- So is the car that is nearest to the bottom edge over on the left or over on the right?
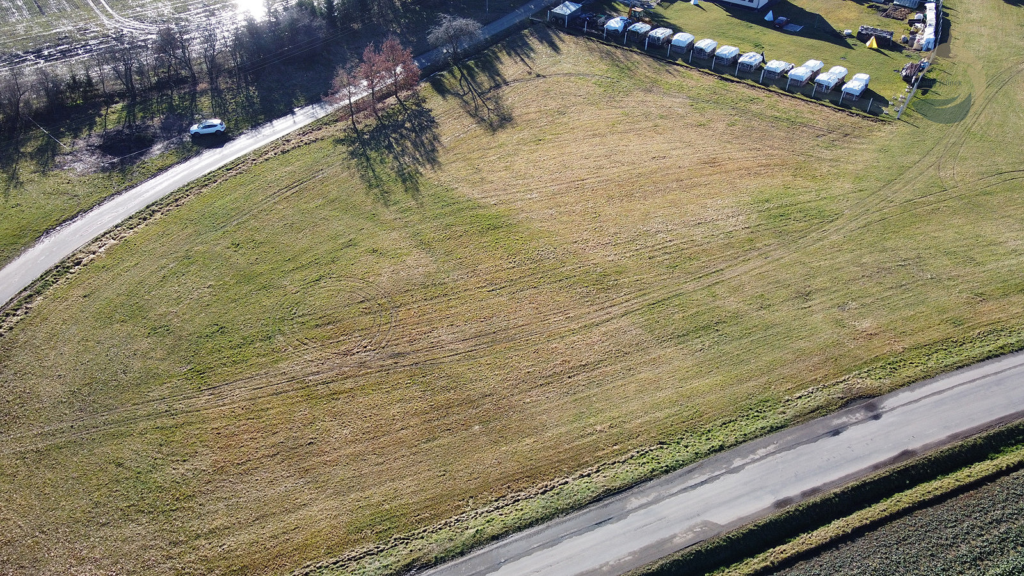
left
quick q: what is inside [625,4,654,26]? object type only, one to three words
work vehicle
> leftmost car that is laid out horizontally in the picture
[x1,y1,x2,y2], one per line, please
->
[188,115,228,136]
